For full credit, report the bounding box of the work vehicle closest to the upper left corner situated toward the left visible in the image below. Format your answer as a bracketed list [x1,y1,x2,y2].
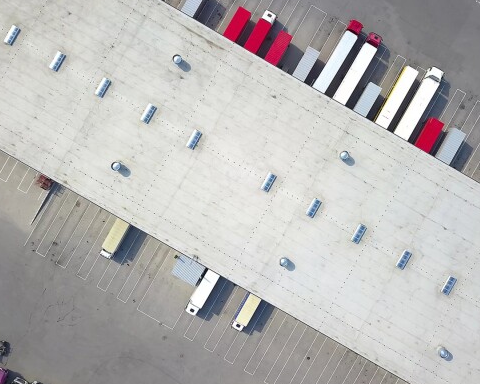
[37,175,51,189]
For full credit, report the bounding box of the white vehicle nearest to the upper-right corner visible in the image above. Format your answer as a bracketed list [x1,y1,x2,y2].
[415,66,444,93]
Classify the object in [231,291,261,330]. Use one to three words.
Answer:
truck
